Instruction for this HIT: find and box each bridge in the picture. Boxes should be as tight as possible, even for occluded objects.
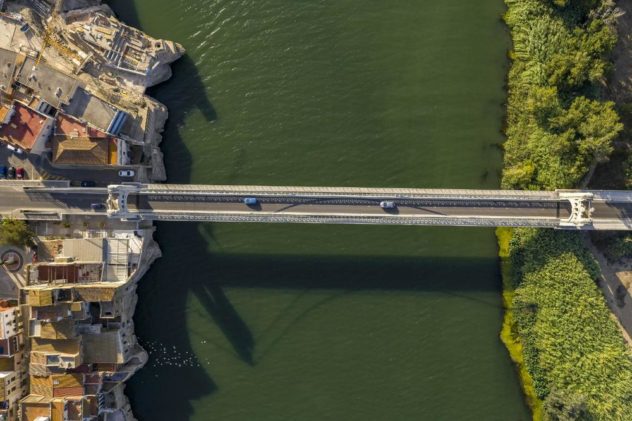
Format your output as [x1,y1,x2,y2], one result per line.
[28,182,632,231]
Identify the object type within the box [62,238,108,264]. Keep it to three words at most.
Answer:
building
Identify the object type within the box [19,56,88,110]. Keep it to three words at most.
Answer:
building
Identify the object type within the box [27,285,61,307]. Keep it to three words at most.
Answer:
house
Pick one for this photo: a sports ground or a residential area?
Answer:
residential area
